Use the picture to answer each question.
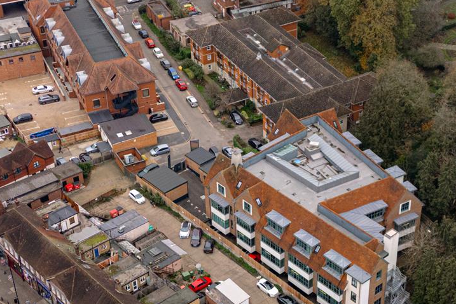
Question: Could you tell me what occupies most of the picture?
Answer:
buildings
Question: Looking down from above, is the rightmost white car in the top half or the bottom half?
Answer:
bottom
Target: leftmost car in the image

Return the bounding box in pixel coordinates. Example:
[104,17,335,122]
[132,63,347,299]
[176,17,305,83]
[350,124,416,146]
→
[10,113,35,125]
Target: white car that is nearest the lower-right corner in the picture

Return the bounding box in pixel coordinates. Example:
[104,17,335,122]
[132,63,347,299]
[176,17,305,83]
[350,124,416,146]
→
[254,279,280,299]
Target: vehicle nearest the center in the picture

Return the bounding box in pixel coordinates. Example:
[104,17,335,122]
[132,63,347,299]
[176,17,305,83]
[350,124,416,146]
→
[220,145,235,161]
